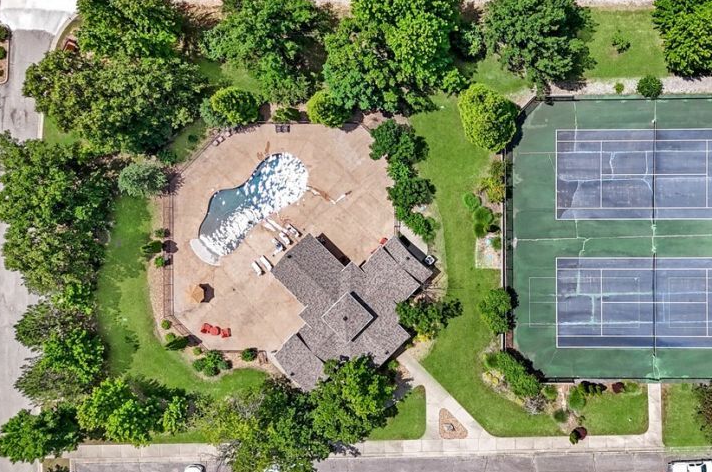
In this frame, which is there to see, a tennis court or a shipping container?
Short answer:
tennis court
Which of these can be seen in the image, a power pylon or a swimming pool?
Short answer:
swimming pool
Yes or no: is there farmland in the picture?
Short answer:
No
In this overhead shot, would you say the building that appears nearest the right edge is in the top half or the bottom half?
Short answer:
bottom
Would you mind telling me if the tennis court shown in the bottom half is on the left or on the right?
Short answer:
right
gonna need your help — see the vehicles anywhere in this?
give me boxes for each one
[185,464,206,472]
[668,458,712,472]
